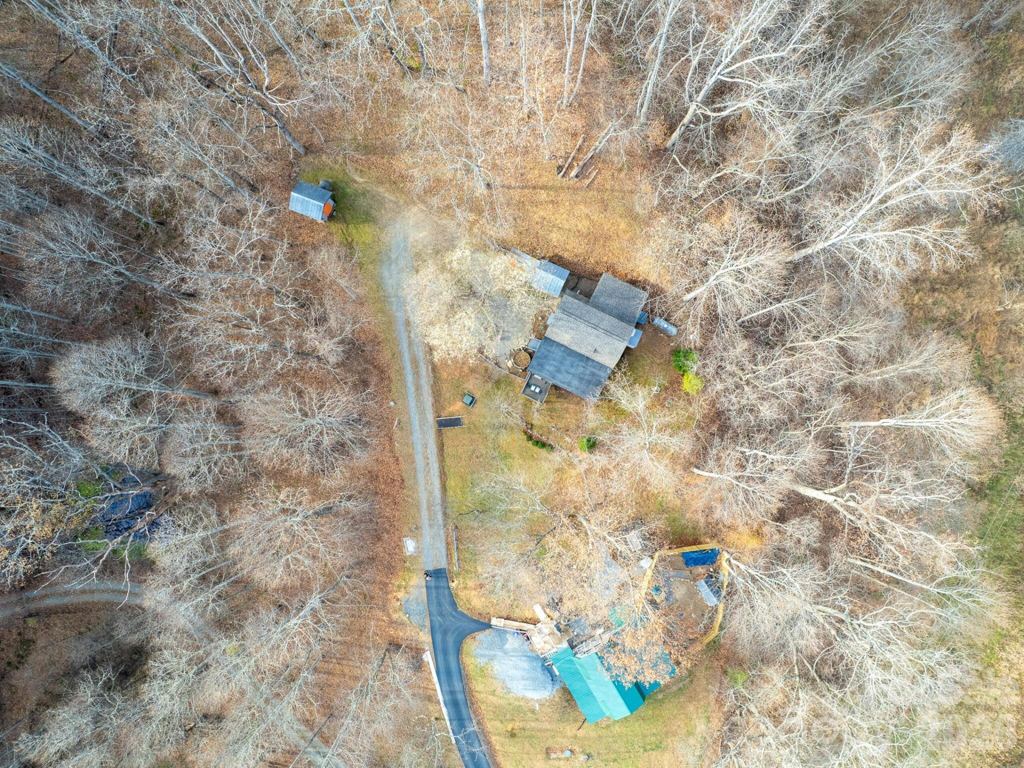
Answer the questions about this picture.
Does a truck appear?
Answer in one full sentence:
No, I can see no truck in this picture.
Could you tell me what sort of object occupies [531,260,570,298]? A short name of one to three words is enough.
shed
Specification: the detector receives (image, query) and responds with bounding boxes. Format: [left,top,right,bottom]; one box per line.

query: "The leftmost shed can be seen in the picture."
[289,181,339,224]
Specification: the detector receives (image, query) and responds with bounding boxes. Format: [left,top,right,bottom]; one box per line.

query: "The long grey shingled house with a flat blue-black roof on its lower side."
[526,273,648,401]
